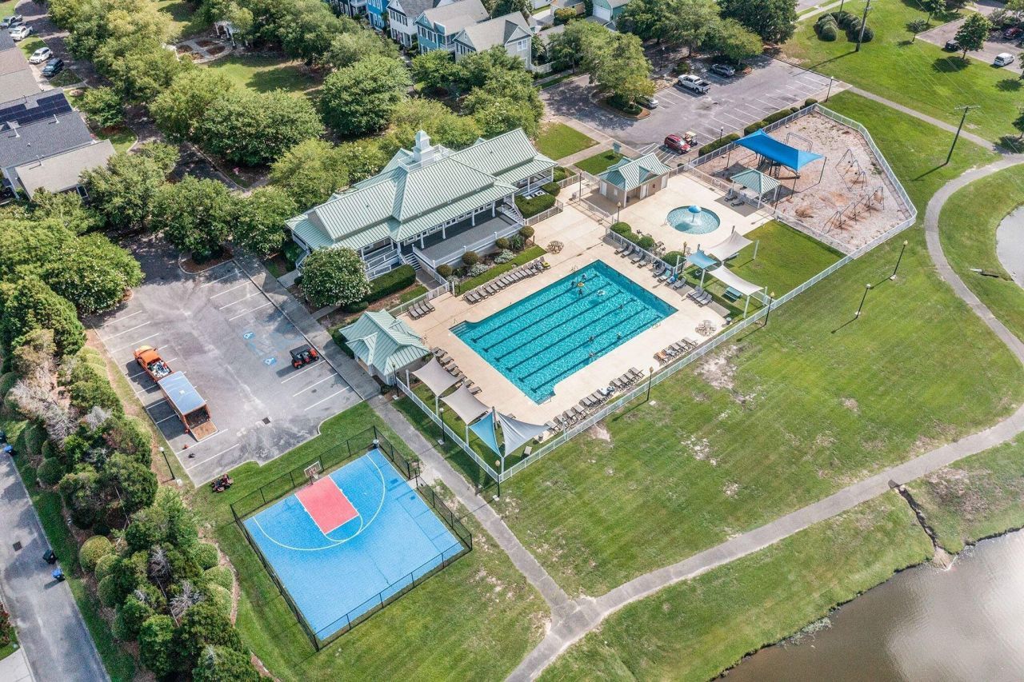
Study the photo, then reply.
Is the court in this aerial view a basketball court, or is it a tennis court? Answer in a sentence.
From above, the court can be identified as a basketball court.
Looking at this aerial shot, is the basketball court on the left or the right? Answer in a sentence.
The basketball court sits on the left side.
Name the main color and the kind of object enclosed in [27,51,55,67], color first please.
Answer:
white car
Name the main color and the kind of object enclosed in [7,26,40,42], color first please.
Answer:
white vehicle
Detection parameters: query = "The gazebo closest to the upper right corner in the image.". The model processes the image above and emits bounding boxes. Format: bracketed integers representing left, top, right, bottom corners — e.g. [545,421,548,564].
[729,168,783,208]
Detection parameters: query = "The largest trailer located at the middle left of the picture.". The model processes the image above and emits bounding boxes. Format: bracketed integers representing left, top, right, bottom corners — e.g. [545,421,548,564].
[157,371,220,443]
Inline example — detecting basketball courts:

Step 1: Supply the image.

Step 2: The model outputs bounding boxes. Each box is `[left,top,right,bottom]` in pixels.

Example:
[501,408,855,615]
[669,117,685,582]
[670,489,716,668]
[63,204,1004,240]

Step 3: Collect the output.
[240,445,463,641]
